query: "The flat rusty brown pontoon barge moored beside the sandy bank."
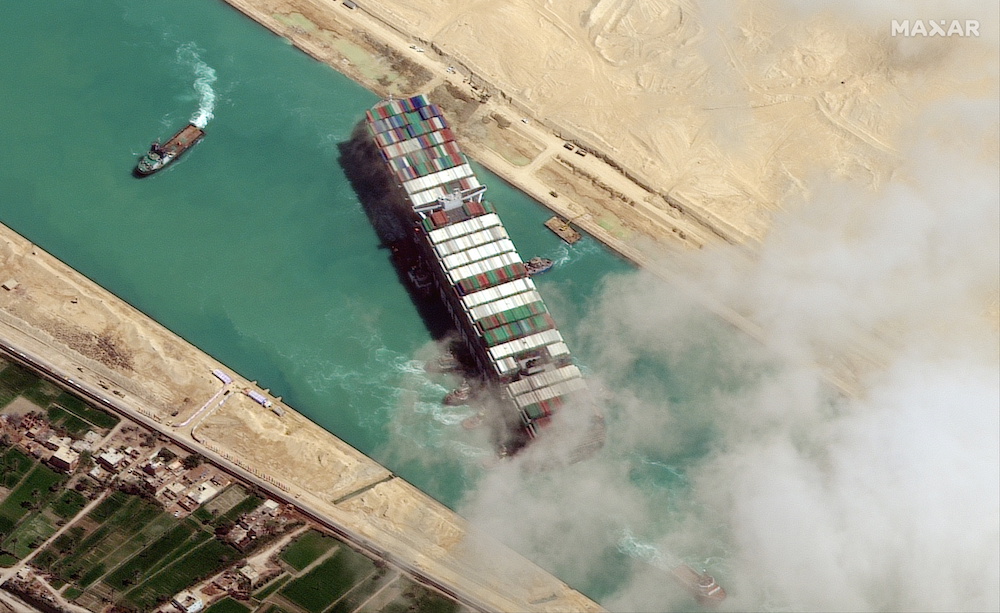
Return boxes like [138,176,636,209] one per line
[544,215,581,244]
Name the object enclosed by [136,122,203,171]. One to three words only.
vessel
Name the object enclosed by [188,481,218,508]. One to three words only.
house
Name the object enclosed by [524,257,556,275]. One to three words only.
boat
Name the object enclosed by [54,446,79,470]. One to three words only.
house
